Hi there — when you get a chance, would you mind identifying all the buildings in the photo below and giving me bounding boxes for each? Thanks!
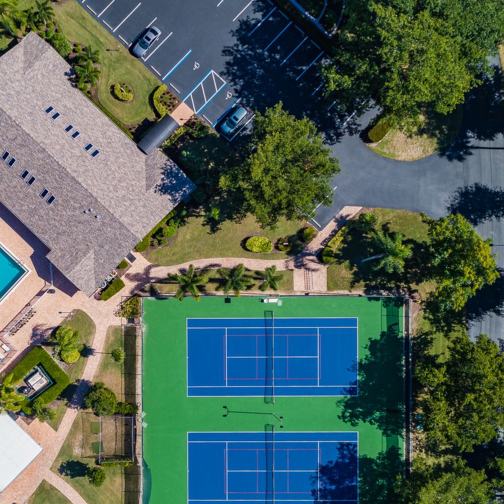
[0,412,43,493]
[0,31,195,296]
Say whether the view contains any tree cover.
Yes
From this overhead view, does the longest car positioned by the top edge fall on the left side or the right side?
left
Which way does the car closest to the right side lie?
on a diagonal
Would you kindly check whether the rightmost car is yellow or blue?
blue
